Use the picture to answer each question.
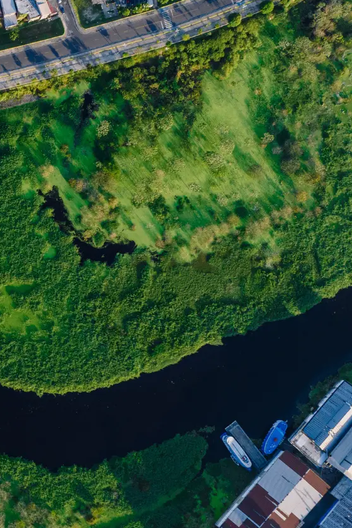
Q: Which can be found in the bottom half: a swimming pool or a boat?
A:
boat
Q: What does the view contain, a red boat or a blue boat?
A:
blue boat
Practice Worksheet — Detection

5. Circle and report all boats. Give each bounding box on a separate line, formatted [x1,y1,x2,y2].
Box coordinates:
[221,432,252,474]
[263,419,286,454]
